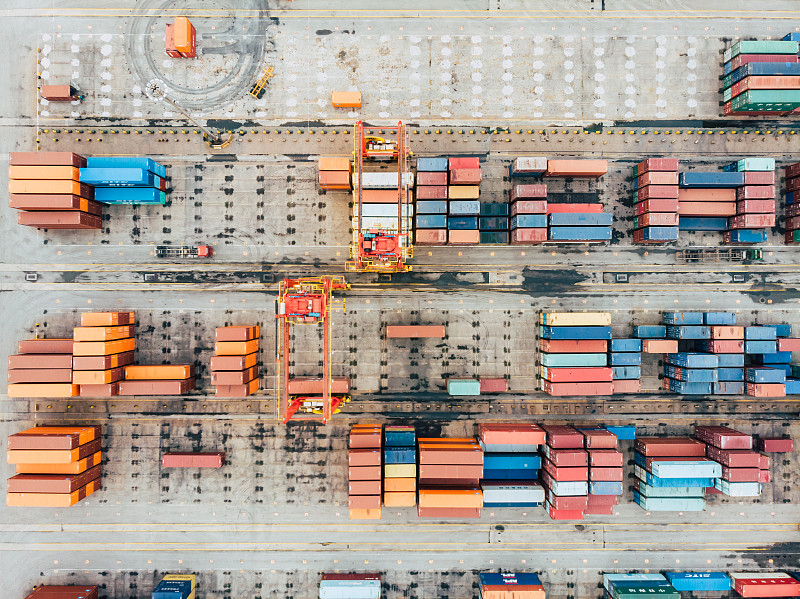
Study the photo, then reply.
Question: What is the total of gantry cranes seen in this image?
two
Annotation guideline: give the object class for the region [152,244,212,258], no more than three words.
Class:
vehicle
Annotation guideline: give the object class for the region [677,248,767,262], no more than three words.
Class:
vehicle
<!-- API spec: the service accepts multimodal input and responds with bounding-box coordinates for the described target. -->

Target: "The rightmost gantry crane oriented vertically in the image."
[342,119,418,277]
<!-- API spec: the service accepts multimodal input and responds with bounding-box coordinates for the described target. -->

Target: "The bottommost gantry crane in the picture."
[275,275,357,425]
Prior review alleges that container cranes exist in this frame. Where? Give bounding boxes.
[275,275,357,425]
[342,119,418,277]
